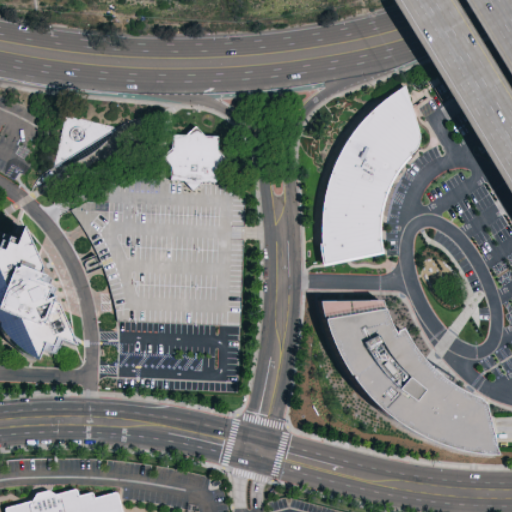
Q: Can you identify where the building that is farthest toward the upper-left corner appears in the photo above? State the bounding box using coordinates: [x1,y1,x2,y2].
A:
[55,118,115,173]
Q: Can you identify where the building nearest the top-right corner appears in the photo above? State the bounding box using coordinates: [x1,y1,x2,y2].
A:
[322,87,421,265]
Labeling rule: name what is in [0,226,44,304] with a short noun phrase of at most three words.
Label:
building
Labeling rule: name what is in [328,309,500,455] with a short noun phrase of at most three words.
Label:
building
